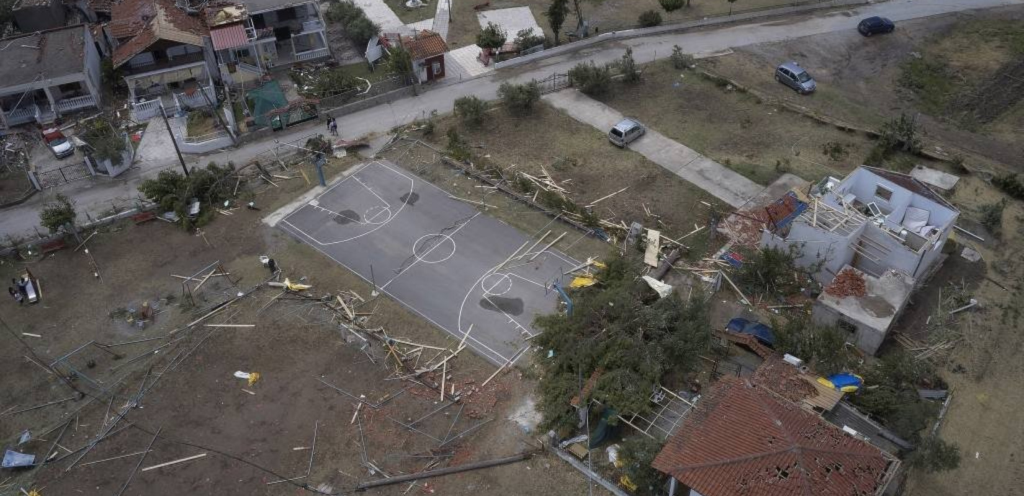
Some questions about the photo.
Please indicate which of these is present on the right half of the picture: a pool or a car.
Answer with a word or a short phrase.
car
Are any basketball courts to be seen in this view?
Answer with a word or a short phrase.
Yes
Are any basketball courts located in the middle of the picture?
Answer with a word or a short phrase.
Yes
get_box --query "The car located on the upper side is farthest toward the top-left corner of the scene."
[41,131,69,159]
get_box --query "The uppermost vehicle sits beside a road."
[858,19,895,36]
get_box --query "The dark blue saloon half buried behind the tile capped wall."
[727,318,783,350]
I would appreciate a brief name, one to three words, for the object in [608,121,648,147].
car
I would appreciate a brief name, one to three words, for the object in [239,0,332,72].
house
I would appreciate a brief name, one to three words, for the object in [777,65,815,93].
car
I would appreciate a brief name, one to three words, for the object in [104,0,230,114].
house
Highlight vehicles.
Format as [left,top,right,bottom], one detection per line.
[41,131,69,159]
[858,19,895,36]
[608,121,648,147]
[777,65,815,93]
[727,318,783,350]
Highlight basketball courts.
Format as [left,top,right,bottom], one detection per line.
[274,155,616,378]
